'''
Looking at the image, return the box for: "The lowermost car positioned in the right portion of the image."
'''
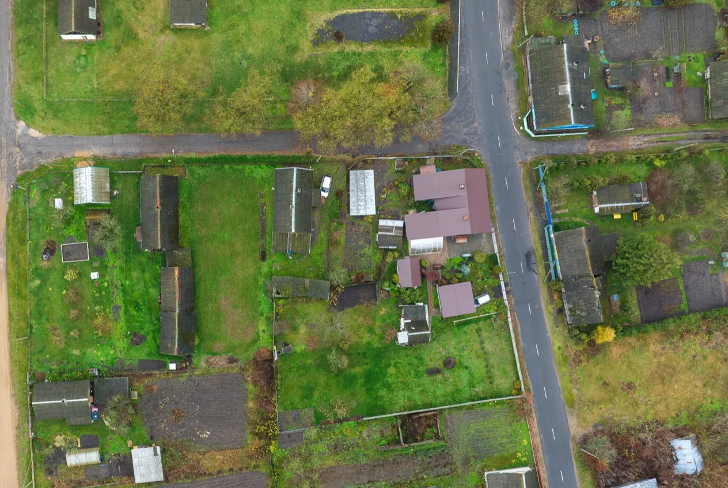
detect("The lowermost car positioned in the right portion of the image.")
[474,293,492,306]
